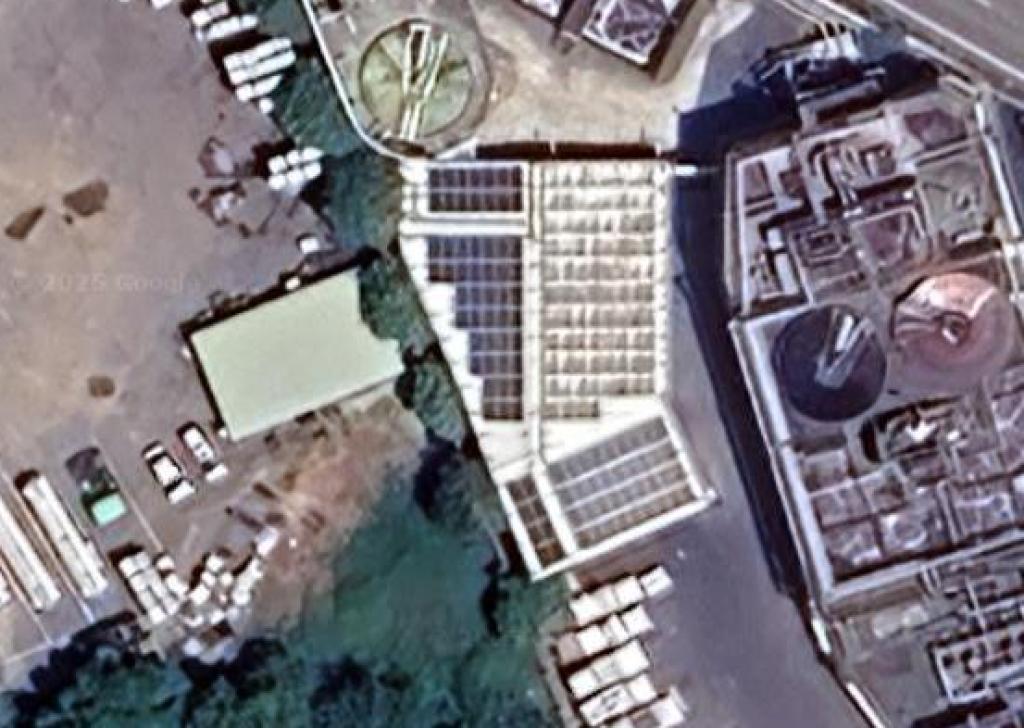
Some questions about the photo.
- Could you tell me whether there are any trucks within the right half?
No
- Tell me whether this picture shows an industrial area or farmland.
industrial area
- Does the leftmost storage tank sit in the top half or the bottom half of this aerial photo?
top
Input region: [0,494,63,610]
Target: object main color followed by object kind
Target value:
white trailer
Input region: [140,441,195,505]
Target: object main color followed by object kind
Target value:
white car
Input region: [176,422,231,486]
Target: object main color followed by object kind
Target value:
white car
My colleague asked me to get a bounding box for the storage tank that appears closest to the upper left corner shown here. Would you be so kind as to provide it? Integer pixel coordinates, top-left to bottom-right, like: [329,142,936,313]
[356,18,490,150]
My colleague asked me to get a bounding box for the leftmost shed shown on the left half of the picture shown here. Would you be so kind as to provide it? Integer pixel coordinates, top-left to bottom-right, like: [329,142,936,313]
[191,269,404,440]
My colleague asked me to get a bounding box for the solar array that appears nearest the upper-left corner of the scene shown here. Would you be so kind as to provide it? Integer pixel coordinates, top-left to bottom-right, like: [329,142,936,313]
[429,166,524,212]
